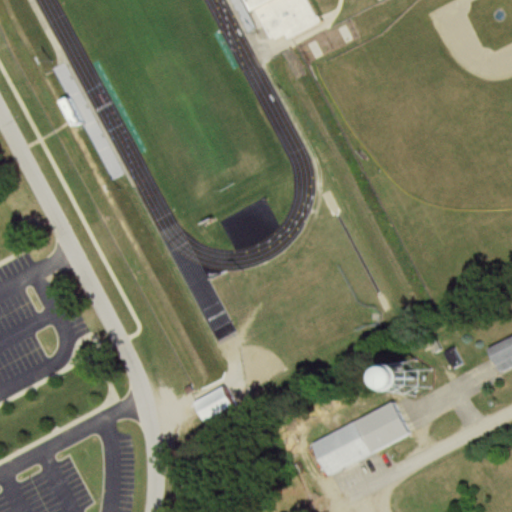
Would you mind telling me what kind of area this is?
sports ground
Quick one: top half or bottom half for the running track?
top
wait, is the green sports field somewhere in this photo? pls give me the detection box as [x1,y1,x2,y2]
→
[58,0,294,250]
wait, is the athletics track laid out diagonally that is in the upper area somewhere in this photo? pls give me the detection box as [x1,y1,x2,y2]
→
[34,0,316,338]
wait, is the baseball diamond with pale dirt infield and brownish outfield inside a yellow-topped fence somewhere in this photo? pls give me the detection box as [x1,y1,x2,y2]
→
[316,0,512,210]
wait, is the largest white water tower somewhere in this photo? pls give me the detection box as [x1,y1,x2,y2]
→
[362,358,433,400]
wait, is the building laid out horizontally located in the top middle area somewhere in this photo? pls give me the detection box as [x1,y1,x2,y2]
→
[230,0,324,40]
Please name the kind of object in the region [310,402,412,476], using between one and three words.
shed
